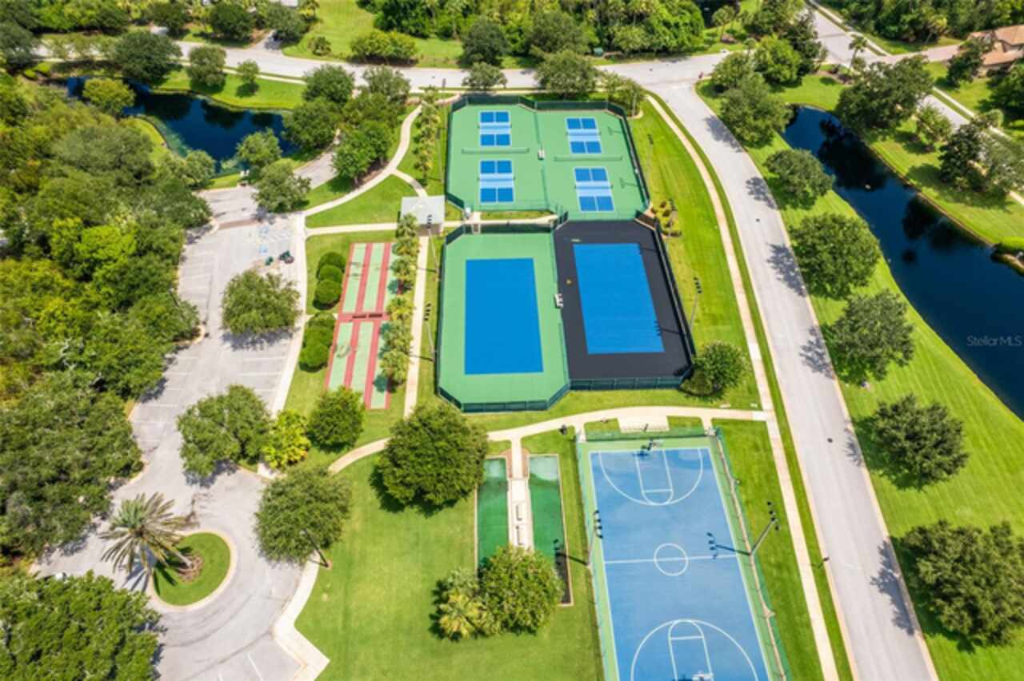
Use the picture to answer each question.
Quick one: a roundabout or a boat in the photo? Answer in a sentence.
This aerial view contains a roundabout.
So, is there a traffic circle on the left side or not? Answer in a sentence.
Yes, a traffic circle is visible on the left side.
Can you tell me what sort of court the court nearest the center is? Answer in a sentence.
It turns out the court nearest the center is a tennis court.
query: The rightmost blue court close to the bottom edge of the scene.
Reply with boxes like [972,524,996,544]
[577,438,783,681]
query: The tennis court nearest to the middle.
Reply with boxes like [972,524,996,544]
[439,232,569,412]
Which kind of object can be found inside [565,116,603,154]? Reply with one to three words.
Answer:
sports court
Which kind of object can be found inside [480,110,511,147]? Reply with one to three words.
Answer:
sports court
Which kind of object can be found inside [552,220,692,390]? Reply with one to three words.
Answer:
tennis court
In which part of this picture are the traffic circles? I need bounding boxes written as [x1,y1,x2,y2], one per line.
[148,529,236,612]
